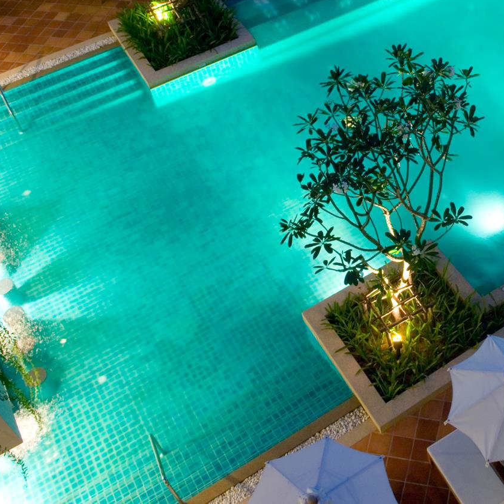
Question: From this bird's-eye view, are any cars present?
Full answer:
No, I can't see a single car in this photo.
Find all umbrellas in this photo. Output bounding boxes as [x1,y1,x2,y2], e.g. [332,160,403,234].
[250,433,399,504]
[441,336,504,475]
